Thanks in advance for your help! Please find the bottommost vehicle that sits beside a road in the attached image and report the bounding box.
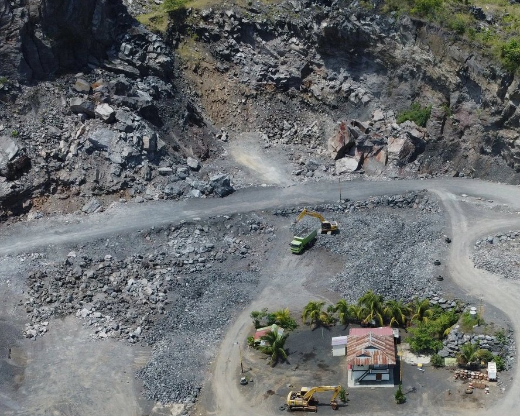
[285,382,341,415]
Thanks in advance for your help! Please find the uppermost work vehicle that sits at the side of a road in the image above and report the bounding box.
[294,204,340,233]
